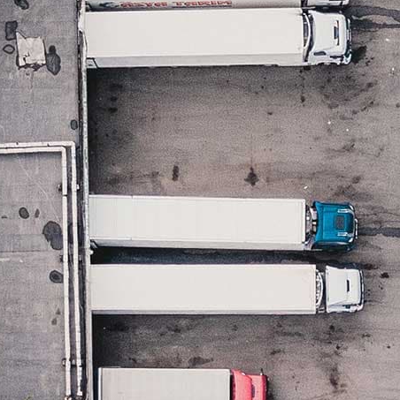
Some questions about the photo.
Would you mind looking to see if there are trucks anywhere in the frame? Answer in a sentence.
Yes, looking at the shot, I can spot a truck.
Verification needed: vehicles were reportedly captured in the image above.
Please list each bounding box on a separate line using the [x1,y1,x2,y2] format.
[99,368,268,400]
[86,0,351,12]
[90,195,362,252]
[91,264,364,316]
[86,7,353,70]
